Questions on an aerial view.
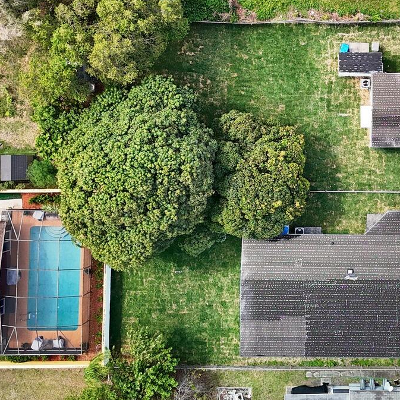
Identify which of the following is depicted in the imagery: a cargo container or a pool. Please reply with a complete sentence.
Looking from above, you can make out a pool.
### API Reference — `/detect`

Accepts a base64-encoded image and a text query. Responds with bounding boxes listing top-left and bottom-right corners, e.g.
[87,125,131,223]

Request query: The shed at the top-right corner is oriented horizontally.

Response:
[339,51,383,72]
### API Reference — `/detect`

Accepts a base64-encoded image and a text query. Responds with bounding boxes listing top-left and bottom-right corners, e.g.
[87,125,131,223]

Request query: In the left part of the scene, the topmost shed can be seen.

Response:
[0,154,33,181]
